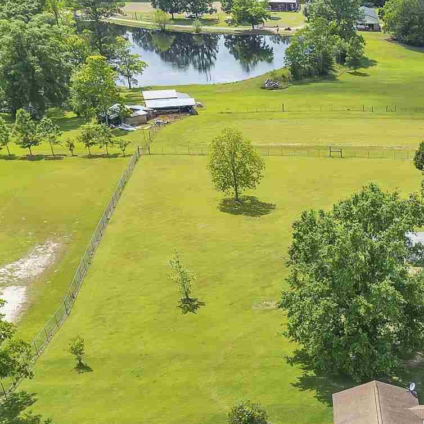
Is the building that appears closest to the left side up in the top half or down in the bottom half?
top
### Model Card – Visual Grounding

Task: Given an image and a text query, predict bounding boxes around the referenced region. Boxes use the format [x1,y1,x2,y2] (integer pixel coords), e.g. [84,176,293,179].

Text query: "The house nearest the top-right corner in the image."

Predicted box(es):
[350,8,381,31]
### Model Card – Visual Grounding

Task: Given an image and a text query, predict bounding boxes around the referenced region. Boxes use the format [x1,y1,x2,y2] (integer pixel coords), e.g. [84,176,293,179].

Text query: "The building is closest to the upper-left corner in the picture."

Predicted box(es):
[99,103,152,125]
